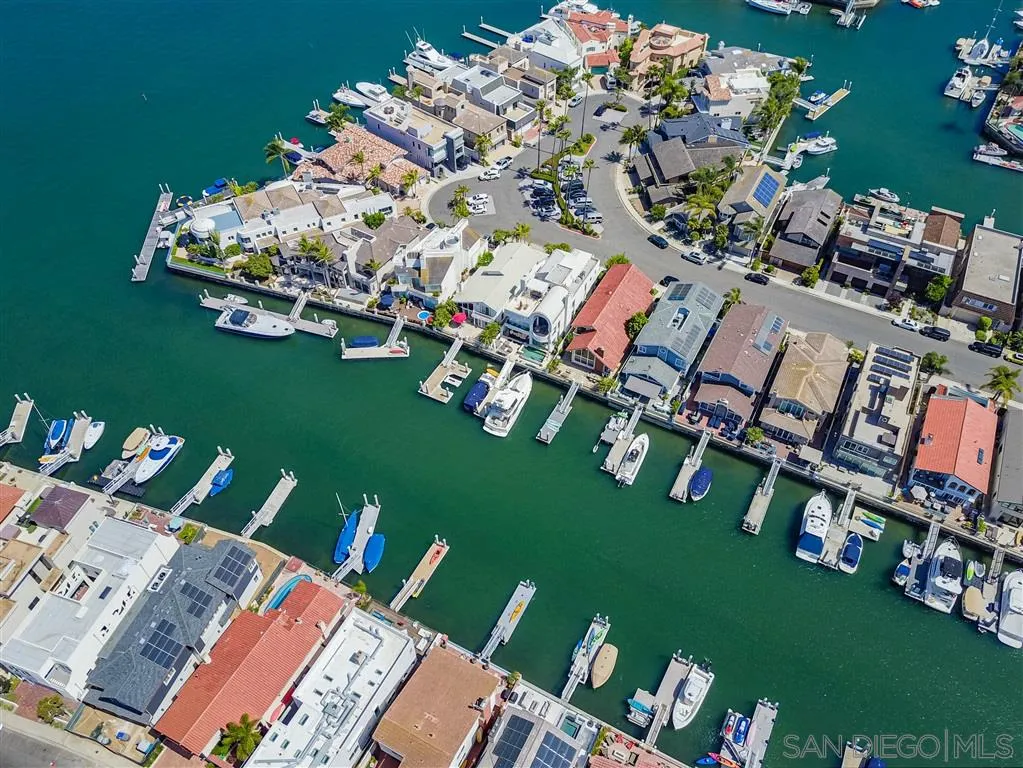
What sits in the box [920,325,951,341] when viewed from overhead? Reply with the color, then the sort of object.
black car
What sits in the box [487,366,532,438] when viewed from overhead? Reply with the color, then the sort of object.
white boat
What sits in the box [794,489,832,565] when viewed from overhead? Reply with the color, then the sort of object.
white boat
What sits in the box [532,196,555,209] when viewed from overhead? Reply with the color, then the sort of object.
black vehicle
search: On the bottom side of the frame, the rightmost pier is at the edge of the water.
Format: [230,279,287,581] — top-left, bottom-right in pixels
[978,543,1009,633]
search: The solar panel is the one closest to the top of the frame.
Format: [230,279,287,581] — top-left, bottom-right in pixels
[752,172,780,208]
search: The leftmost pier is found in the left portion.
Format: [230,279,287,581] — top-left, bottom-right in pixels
[0,392,34,442]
